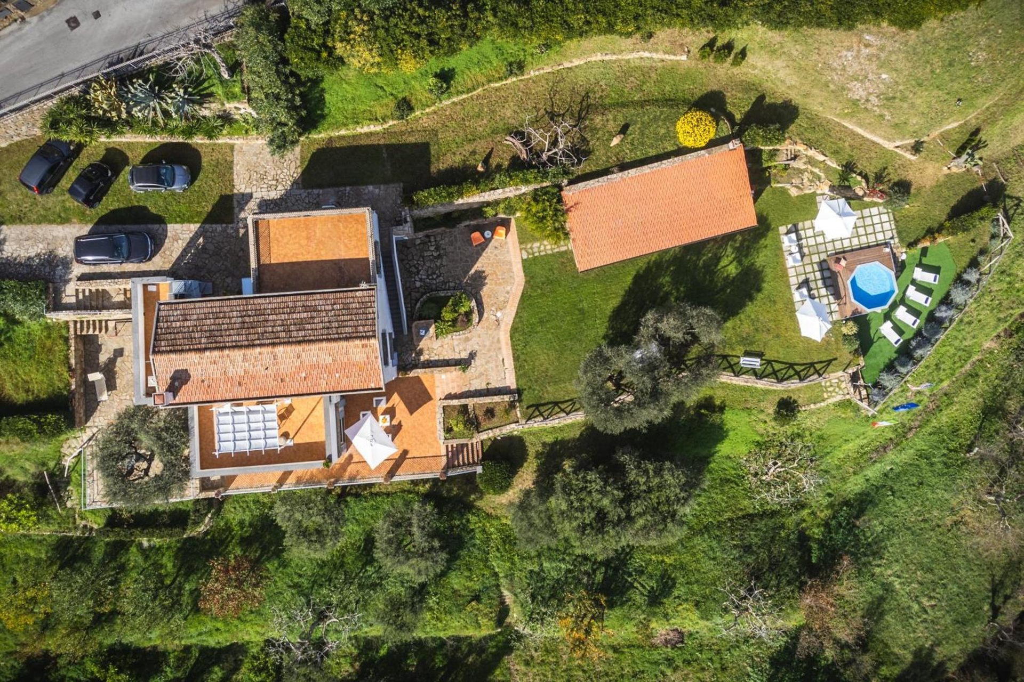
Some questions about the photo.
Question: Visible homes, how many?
2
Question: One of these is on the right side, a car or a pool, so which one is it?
pool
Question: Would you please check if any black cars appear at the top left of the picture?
Yes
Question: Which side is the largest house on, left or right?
left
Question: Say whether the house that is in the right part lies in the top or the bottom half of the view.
top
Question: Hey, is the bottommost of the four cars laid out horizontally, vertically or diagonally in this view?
horizontally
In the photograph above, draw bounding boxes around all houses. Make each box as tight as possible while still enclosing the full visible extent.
[128,203,403,475]
[558,139,758,273]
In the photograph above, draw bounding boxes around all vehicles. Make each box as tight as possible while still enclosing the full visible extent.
[17,137,81,198]
[65,157,119,214]
[125,160,195,193]
[70,229,157,266]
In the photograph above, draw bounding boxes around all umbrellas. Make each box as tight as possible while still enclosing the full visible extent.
[794,300,831,339]
[813,196,856,241]
[347,412,399,467]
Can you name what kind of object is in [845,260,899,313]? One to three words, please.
swimming pool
